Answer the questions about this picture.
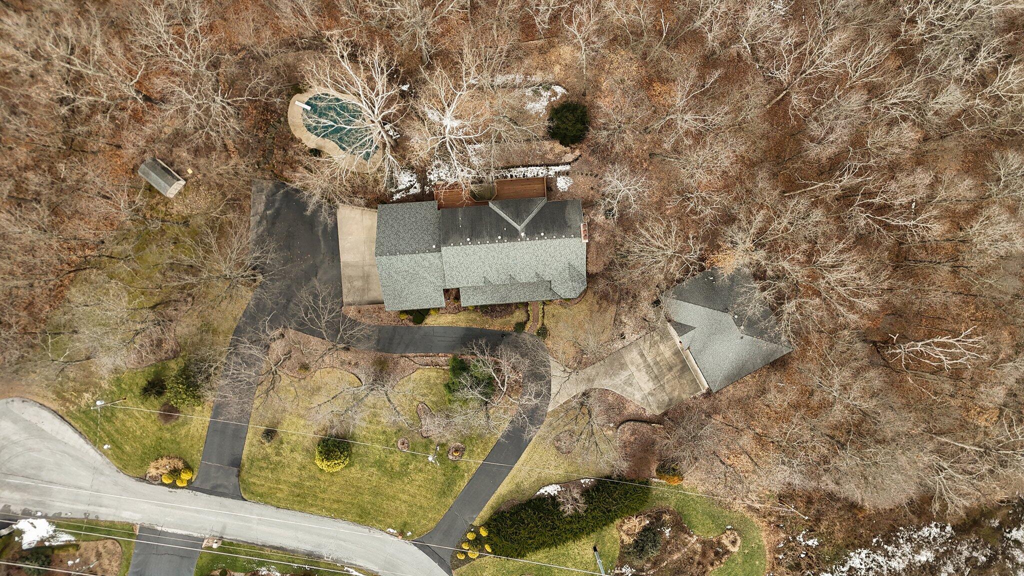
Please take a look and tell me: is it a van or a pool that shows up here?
pool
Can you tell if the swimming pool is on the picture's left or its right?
left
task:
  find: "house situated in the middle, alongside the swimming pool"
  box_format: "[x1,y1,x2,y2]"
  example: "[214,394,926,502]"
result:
[376,197,588,311]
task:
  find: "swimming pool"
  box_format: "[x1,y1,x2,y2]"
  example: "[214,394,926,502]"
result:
[288,88,384,174]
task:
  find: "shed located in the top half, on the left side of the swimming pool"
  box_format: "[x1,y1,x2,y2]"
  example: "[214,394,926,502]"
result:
[133,154,185,197]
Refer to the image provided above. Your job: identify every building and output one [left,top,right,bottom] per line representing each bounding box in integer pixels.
[133,154,185,197]
[376,197,588,311]
[655,256,793,393]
